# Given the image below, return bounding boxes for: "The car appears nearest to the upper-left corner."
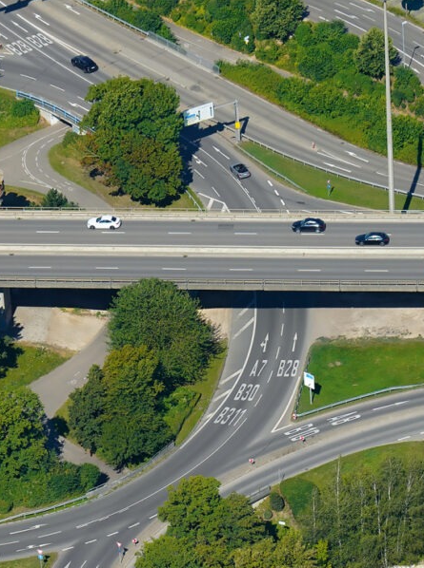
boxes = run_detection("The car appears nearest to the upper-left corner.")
[72,55,98,73]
